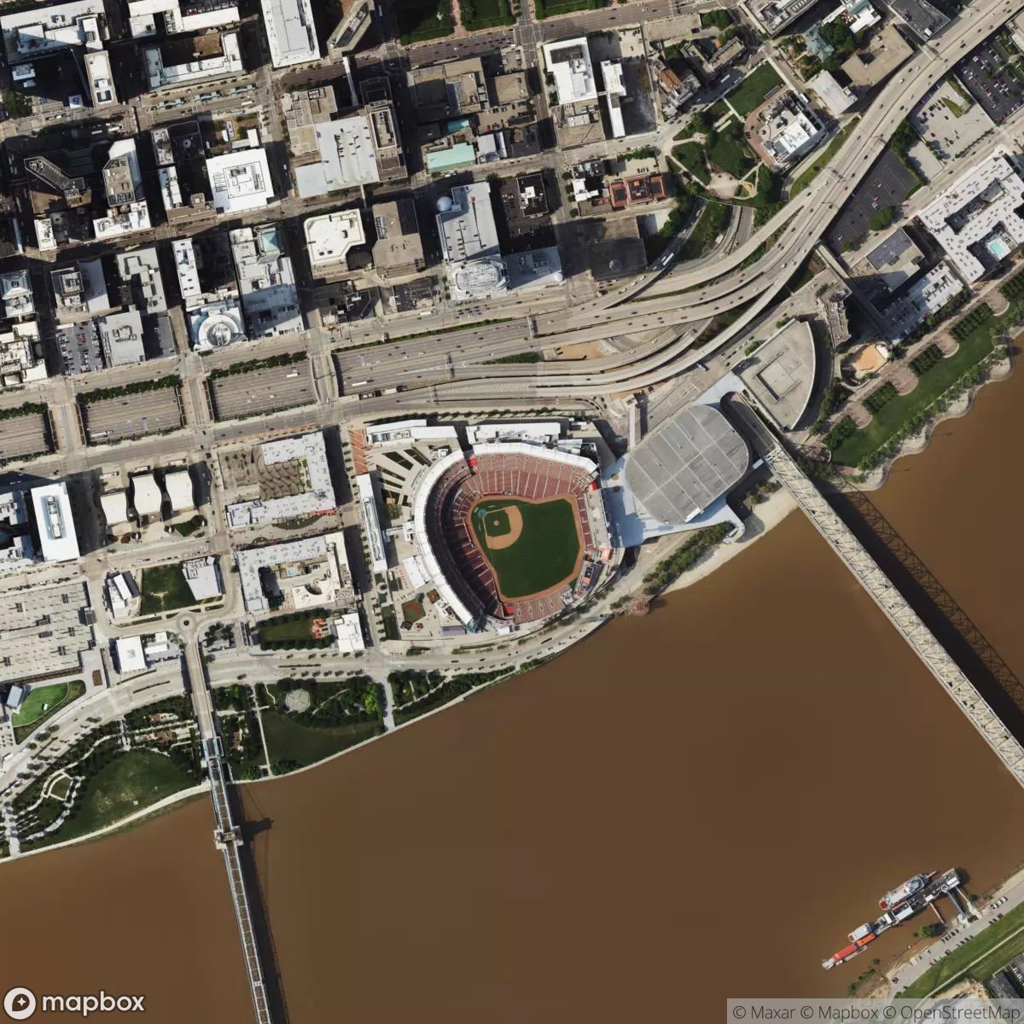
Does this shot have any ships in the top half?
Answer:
No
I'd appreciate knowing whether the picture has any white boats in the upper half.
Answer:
No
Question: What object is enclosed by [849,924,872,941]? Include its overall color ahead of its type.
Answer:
white boat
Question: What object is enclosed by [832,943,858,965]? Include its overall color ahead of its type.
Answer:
red ship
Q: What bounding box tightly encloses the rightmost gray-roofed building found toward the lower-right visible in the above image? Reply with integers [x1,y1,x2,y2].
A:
[990,972,1024,1023]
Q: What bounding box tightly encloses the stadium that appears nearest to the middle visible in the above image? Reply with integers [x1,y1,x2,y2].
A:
[415,440,614,635]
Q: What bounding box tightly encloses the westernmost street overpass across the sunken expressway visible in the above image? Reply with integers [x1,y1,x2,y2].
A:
[48,390,87,454]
